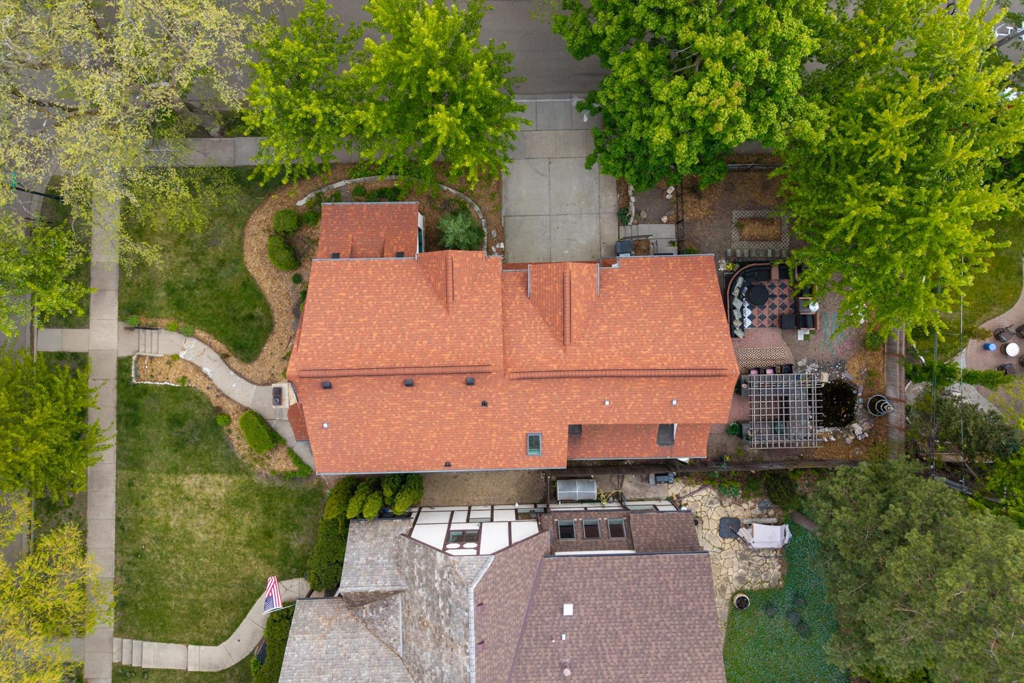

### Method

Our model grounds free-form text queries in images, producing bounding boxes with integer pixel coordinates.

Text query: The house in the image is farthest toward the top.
[271,200,739,476]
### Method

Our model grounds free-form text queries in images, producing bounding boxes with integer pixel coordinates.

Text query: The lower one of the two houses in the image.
[279,497,725,683]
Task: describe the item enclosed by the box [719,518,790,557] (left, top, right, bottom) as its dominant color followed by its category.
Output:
white umbrella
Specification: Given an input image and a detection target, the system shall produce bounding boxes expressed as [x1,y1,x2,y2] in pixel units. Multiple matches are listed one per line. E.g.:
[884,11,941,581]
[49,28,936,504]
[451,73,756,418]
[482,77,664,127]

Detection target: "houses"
[271,200,739,476]
[279,497,725,683]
